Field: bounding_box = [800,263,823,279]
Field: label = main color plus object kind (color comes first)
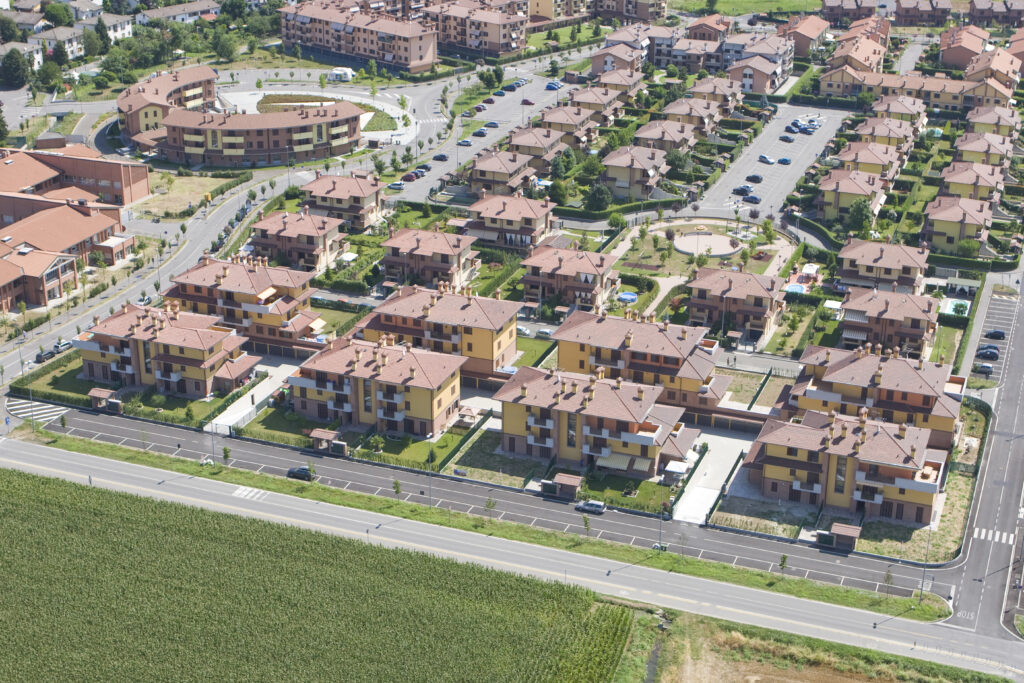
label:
white gazebo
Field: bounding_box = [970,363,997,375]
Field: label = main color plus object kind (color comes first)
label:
gray vehicle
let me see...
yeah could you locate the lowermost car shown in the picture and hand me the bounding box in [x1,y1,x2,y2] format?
[574,501,607,516]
